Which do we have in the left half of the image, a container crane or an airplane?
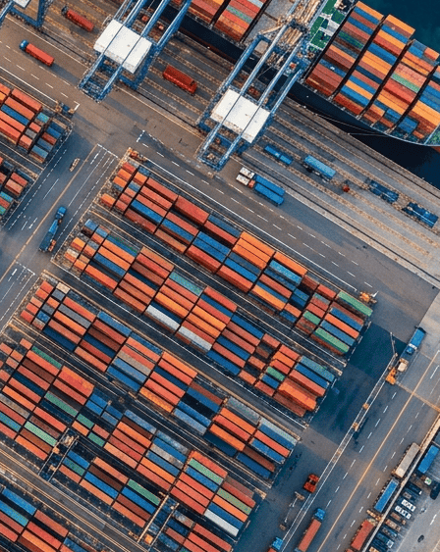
container crane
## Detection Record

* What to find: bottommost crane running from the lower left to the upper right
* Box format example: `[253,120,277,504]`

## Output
[129,493,179,552]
